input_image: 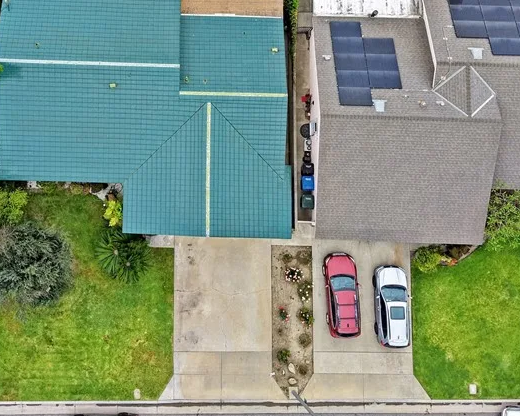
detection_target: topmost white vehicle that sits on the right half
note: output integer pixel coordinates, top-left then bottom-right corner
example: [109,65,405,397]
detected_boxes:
[372,264,413,350]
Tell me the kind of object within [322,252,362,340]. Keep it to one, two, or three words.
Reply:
car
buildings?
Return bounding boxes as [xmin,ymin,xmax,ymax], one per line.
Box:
[308,0,520,245]
[0,0,292,239]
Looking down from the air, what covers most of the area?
buildings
